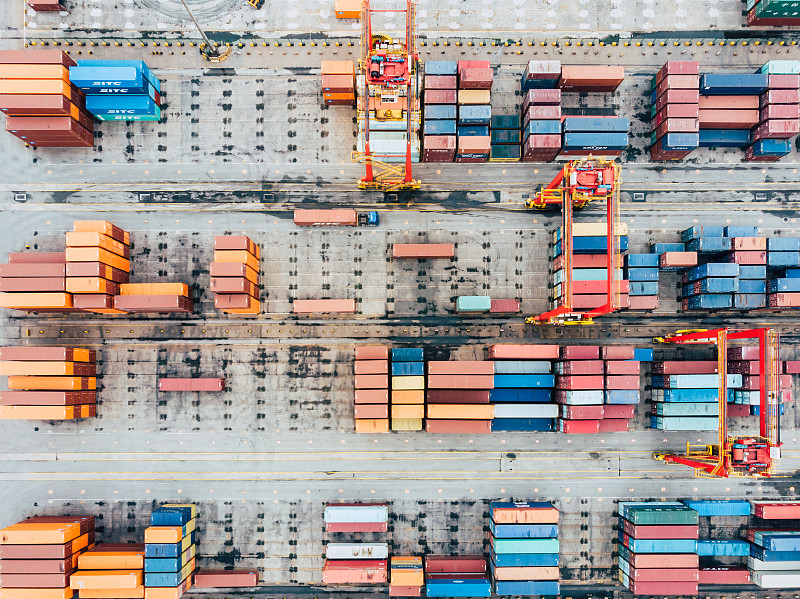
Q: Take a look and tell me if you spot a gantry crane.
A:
Yes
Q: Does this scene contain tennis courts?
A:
No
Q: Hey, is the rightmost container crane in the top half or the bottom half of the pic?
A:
bottom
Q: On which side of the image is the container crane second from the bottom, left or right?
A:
right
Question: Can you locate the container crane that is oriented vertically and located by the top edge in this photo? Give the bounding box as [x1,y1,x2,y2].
[355,0,425,191]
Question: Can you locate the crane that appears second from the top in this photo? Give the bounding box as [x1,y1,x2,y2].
[527,154,623,332]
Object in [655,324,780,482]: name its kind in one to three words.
container crane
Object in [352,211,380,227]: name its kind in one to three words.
vehicle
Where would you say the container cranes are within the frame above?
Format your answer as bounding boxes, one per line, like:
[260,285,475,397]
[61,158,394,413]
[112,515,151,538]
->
[355,0,425,191]
[527,154,623,332]
[655,324,780,482]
